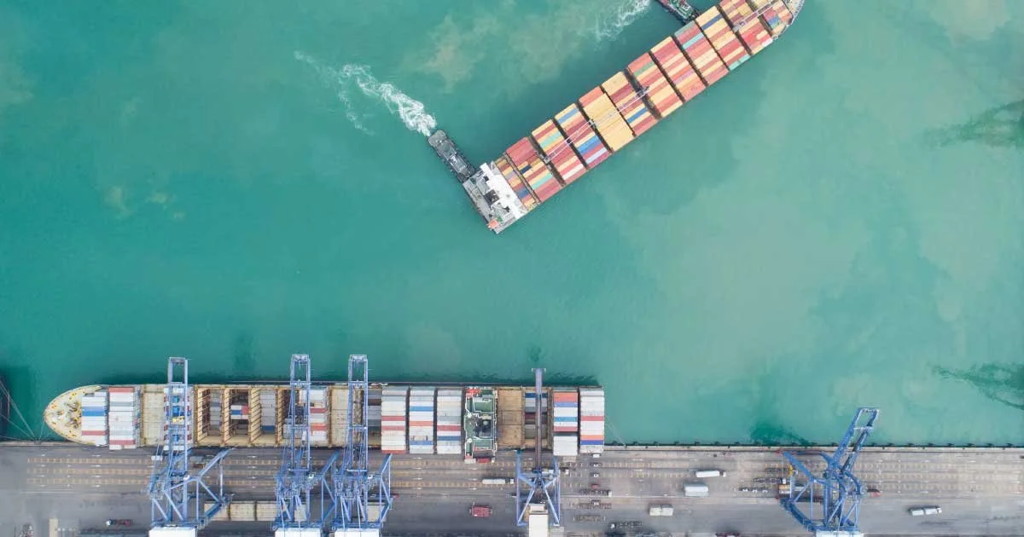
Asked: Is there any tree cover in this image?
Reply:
No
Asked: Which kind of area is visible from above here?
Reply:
port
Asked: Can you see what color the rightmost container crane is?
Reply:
blue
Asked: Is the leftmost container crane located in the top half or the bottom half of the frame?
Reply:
bottom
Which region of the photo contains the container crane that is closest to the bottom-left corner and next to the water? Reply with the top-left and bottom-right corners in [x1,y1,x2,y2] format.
[139,355,239,537]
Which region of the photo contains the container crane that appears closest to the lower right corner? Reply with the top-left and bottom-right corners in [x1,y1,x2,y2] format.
[777,409,882,537]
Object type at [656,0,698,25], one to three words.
boat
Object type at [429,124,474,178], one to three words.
boat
